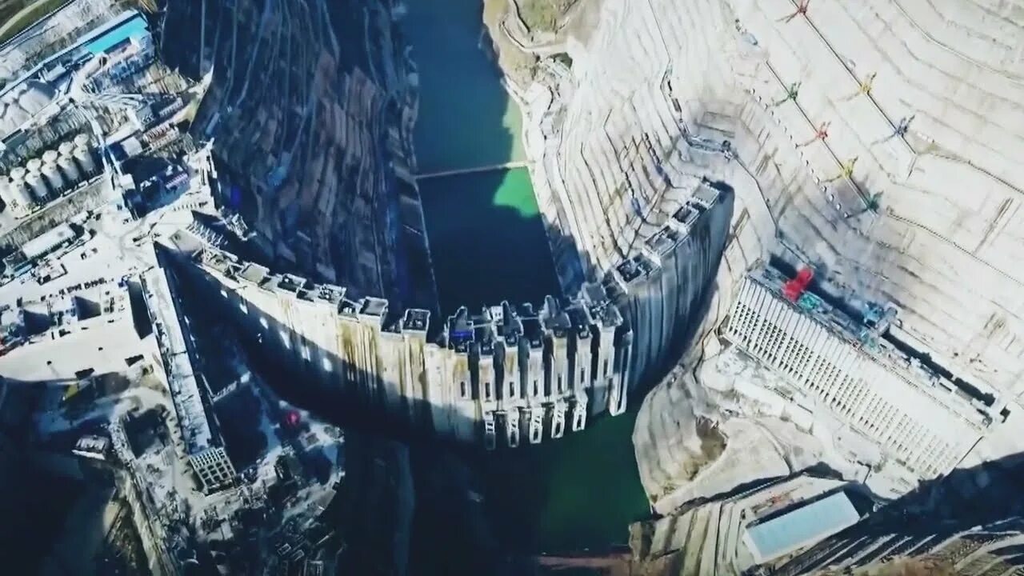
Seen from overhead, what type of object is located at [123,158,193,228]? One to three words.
building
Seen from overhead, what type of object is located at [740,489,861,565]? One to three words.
building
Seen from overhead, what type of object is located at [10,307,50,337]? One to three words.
shed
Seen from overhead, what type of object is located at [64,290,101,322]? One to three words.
shed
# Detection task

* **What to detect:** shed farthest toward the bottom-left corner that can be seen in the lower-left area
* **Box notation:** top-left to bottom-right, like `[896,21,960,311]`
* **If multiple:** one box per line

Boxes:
[71,436,107,462]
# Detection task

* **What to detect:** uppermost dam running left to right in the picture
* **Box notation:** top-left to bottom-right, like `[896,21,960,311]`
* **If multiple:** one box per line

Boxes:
[166,178,734,454]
